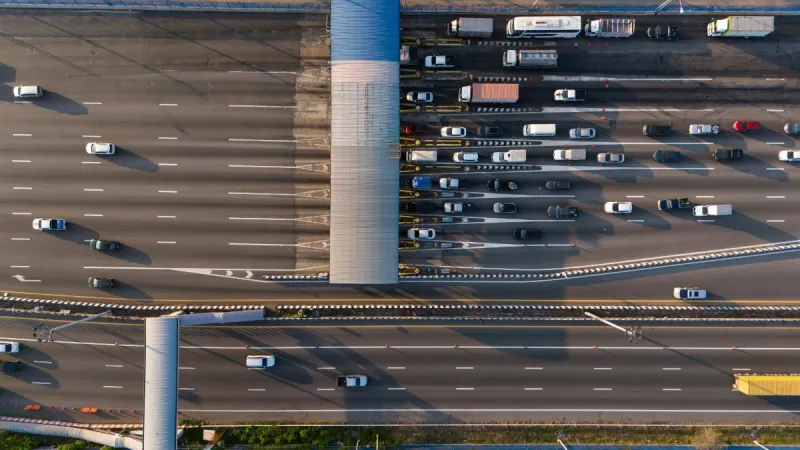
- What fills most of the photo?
paved ground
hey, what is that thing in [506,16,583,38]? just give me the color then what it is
white bus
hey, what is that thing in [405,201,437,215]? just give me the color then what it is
black vehicle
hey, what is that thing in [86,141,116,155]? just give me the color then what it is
white car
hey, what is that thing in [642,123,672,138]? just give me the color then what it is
black car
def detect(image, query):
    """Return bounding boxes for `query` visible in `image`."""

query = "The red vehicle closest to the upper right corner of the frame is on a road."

[731,120,761,133]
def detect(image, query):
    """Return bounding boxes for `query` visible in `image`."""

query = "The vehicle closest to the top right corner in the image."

[705,14,780,37]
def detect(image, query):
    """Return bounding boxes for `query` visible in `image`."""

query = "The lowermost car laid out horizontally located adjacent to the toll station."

[407,227,435,241]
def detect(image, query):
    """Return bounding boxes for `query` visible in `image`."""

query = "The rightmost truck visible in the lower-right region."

[737,373,800,395]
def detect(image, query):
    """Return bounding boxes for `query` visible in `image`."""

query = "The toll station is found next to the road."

[328,0,401,285]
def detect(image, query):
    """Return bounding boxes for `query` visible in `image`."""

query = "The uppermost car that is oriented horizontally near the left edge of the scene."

[13,84,44,98]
